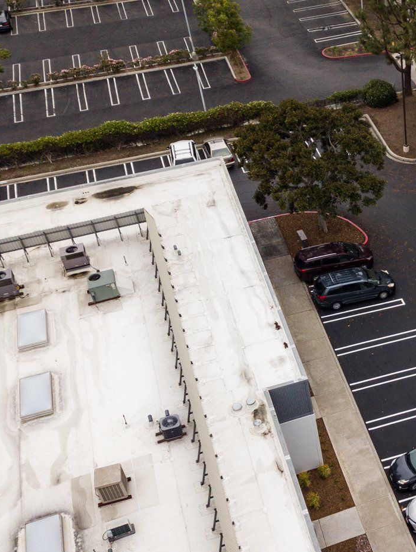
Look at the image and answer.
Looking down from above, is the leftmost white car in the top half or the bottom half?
top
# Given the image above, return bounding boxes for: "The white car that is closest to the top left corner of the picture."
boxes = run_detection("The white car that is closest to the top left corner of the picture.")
[171,141,202,166]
